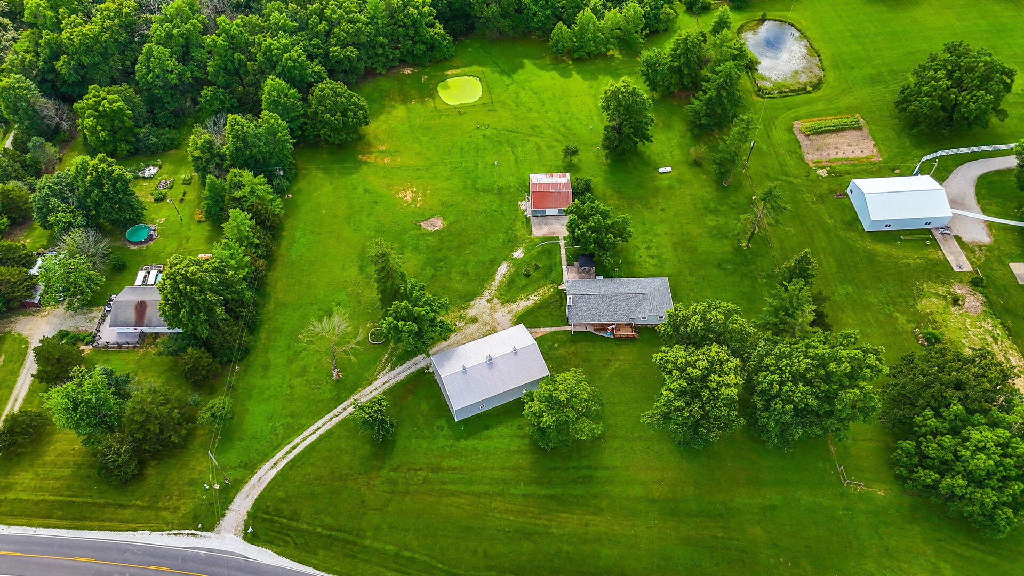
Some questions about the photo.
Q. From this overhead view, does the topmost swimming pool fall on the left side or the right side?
left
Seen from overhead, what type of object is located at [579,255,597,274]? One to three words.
gazebo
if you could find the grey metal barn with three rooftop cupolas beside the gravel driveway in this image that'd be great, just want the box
[430,324,550,420]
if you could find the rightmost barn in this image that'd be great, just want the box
[848,175,953,231]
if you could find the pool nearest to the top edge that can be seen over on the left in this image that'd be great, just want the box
[123,223,152,246]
